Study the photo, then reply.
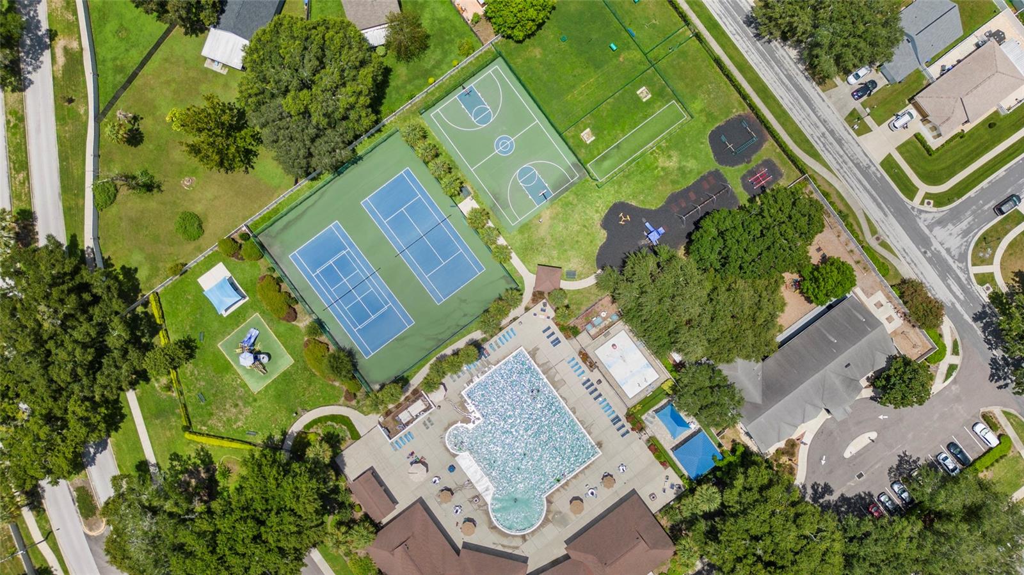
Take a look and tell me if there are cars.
Yes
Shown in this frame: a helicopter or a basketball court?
basketball court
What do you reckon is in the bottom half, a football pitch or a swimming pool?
swimming pool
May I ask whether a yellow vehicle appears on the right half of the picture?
No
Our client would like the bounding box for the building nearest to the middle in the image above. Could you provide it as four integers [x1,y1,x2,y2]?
[535,264,561,291]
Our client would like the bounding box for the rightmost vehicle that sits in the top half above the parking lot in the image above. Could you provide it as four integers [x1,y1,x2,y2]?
[992,195,1020,216]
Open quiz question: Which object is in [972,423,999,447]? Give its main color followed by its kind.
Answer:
white car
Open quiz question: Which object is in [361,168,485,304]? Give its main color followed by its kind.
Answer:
blue tennis court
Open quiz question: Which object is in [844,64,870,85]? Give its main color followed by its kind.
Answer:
white car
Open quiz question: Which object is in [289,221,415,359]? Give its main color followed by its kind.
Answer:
blue tennis court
